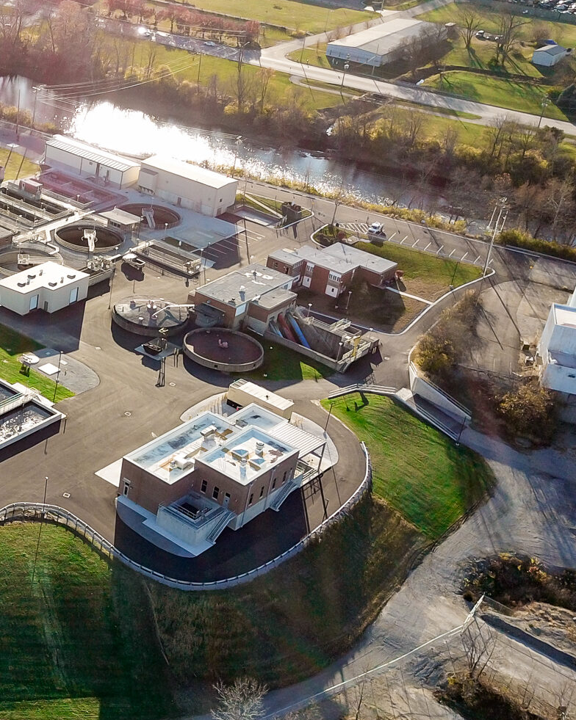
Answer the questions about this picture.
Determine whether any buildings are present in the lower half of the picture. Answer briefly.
Yes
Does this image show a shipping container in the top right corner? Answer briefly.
No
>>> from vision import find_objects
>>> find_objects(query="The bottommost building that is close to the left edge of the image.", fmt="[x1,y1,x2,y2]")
[0,259,90,317]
